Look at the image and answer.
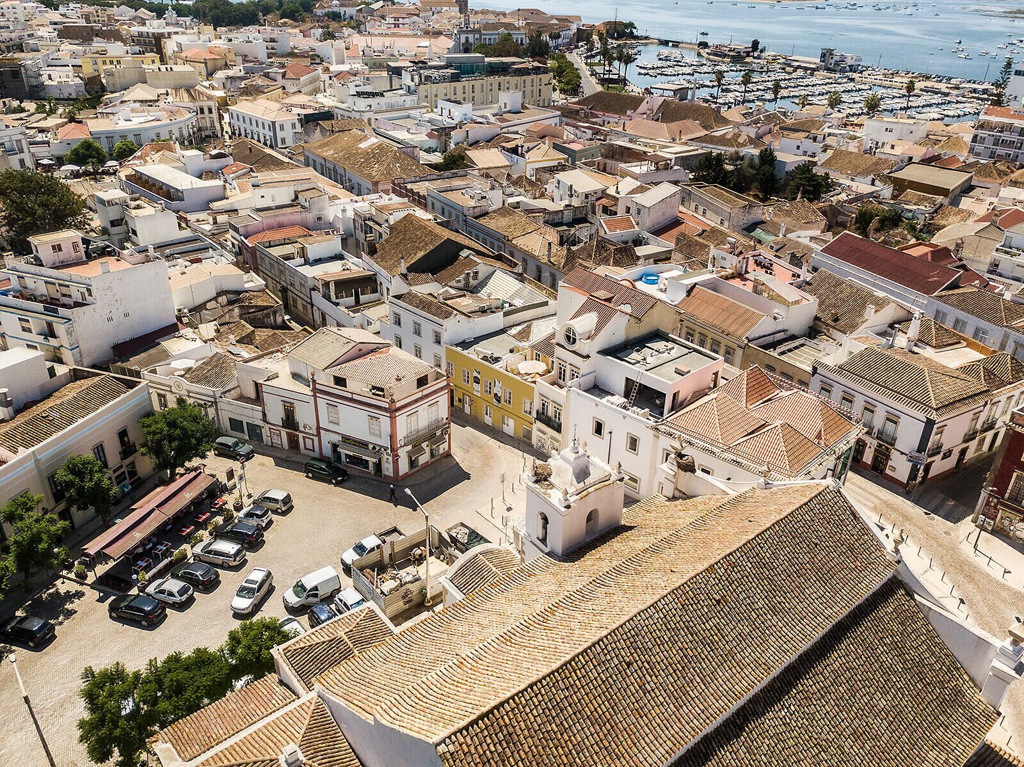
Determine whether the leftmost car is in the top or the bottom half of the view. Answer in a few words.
bottom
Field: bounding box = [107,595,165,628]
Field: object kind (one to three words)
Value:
car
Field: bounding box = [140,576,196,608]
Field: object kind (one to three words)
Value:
car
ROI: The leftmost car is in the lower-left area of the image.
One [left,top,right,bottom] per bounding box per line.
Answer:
[0,613,57,648]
